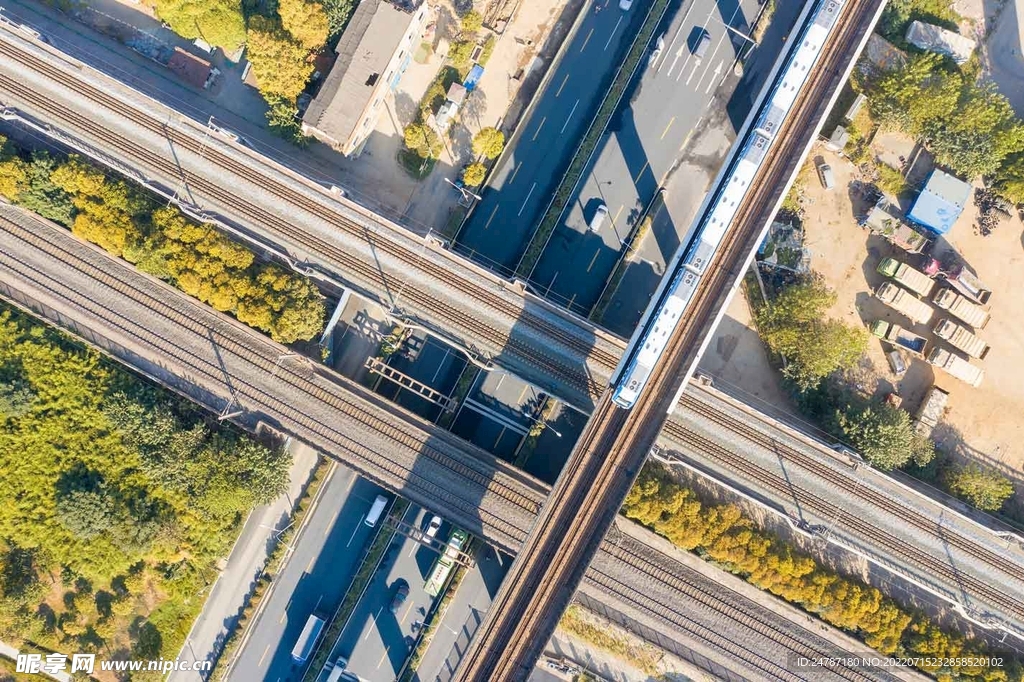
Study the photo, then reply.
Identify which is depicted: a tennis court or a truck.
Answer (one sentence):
Looking from above, you can make out a truck.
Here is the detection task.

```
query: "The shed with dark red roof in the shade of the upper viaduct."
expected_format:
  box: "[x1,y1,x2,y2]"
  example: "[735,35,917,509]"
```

[167,45,218,93]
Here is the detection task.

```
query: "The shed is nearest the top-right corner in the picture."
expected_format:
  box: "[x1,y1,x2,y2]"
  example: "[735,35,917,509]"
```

[895,20,975,72]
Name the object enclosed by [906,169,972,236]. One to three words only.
building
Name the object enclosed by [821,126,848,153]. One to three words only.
shed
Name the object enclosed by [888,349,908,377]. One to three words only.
car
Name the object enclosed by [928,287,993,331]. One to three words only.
truck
